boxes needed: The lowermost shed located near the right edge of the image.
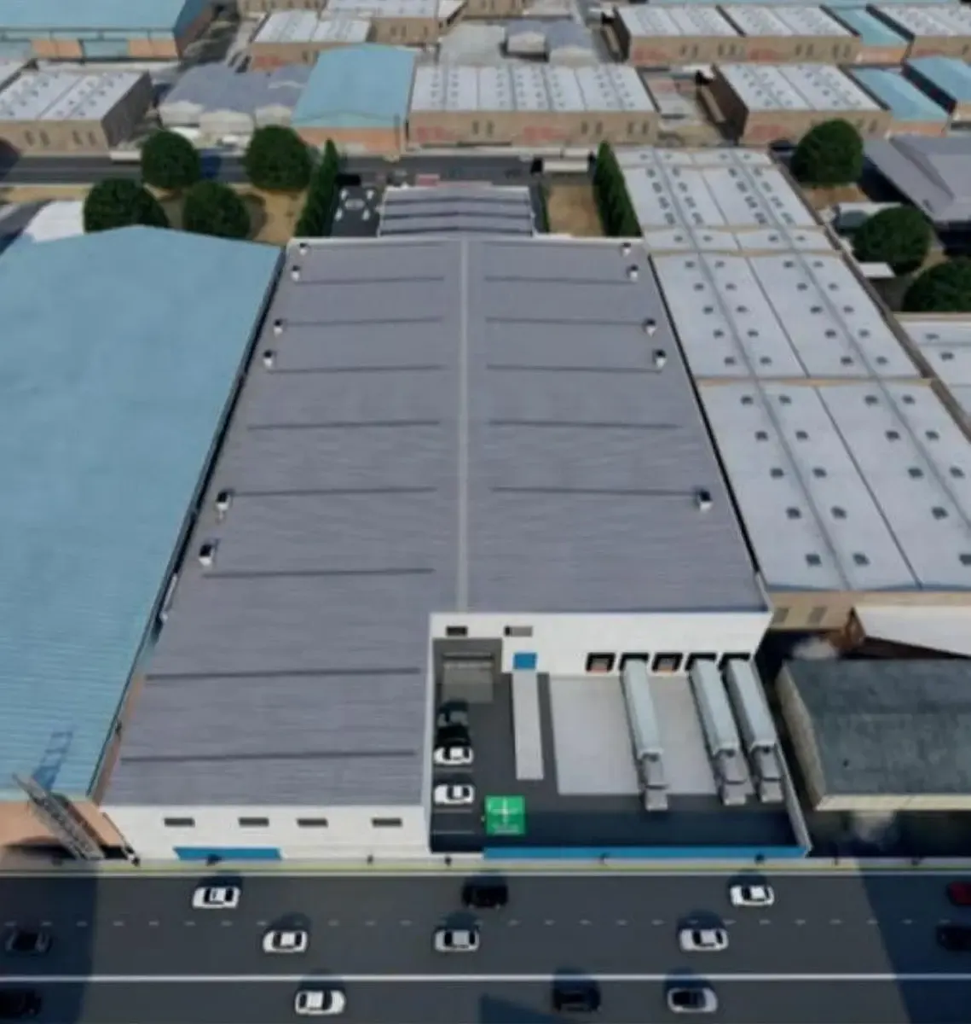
[772,653,971,810]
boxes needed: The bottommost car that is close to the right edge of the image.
[934,923,971,950]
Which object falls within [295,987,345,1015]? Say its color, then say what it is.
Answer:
white car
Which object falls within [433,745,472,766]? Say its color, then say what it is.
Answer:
white car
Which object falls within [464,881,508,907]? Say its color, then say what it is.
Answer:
black car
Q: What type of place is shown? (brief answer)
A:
industrial area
